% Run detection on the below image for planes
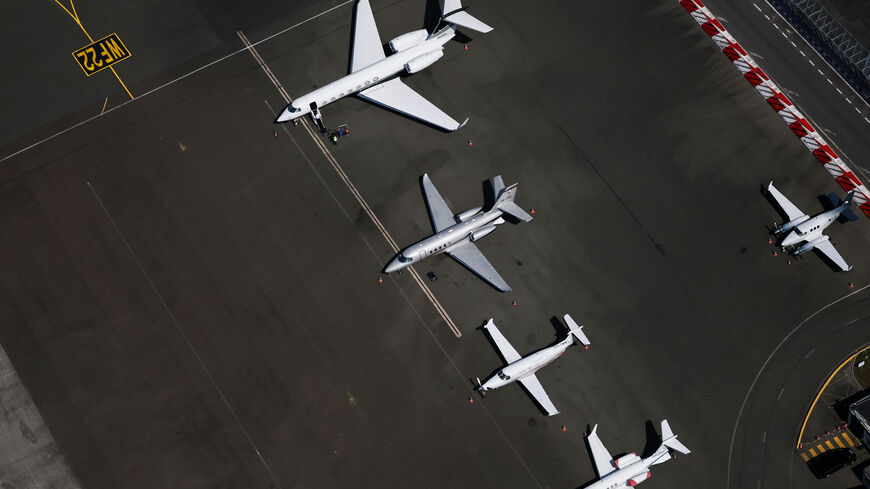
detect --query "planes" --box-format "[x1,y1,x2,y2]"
[583,419,691,489]
[768,182,858,271]
[476,314,590,414]
[386,174,534,292]
[278,0,494,134]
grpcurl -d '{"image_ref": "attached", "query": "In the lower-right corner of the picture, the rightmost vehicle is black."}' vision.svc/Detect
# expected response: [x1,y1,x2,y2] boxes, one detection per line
[809,447,856,481]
